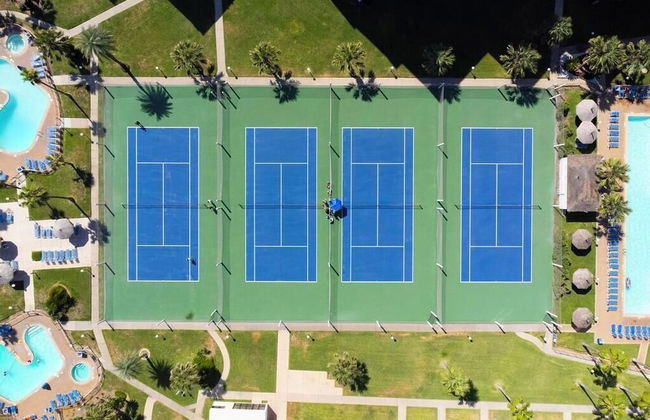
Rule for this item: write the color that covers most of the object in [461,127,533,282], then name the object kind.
blue tennis court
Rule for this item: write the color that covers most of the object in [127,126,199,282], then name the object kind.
blue tennis court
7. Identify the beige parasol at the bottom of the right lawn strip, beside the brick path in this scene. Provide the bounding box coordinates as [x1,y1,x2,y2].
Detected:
[571,310,592,331]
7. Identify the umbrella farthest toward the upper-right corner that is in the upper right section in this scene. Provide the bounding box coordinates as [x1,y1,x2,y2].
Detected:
[576,101,596,121]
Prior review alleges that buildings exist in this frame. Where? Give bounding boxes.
[206,402,267,420]
[560,153,604,213]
